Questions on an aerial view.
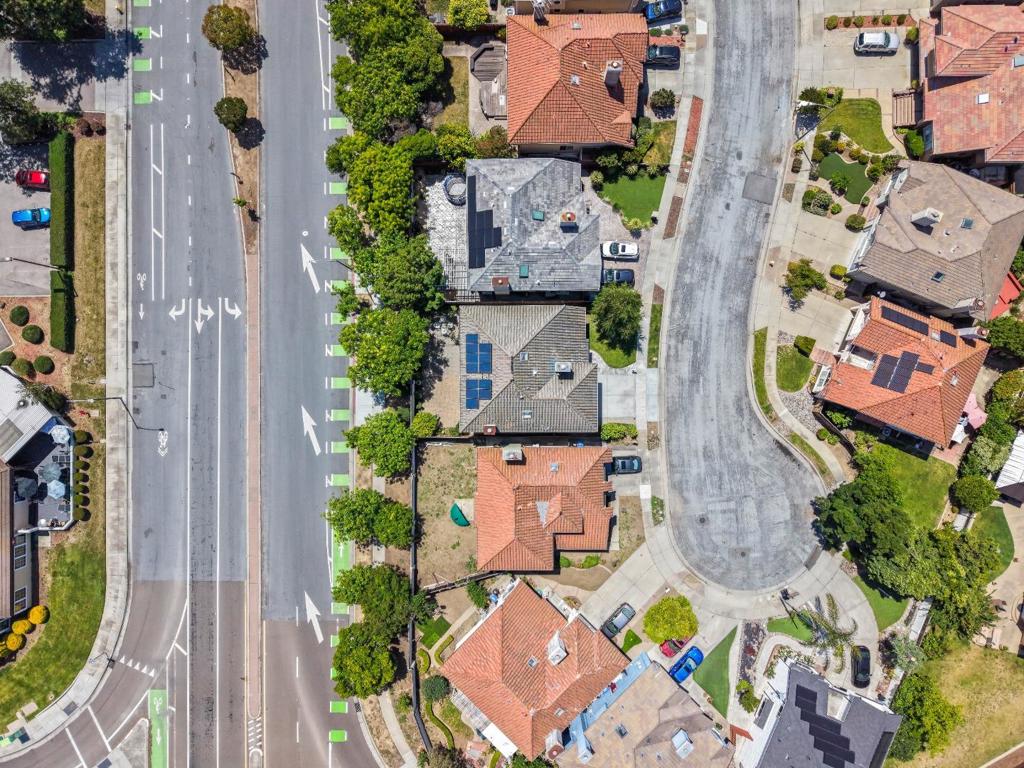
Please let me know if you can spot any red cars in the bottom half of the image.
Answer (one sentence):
Yes, I can see a red car in the bottom half of the image.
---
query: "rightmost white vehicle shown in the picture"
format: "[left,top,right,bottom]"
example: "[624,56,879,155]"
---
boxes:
[855,30,899,53]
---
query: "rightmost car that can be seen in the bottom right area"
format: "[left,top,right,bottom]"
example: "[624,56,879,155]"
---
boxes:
[850,645,873,687]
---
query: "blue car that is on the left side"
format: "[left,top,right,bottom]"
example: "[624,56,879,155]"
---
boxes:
[8,208,53,229]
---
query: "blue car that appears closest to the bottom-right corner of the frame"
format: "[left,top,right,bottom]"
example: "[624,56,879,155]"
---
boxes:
[669,645,707,681]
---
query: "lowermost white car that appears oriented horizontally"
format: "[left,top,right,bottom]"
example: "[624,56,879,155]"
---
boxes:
[601,240,640,259]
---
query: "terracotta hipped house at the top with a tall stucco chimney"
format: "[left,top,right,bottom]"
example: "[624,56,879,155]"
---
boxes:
[505,0,648,153]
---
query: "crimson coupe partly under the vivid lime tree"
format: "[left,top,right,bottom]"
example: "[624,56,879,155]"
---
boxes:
[658,633,694,661]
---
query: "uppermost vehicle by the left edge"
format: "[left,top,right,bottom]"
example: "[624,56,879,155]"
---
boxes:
[14,170,53,189]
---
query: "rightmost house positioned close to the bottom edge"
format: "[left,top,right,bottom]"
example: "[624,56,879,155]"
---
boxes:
[737,649,905,768]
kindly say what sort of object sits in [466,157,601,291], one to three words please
house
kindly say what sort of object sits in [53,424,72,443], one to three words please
umbrella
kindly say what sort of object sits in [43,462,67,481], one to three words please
umbrella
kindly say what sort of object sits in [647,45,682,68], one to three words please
car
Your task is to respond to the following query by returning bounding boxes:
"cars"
[600,602,637,640]
[601,240,640,259]
[647,45,682,68]
[8,208,53,229]
[669,645,707,681]
[14,170,53,189]
[850,645,873,687]
[658,633,694,661]
[855,30,899,53]
[601,268,636,286]
[644,0,686,23]
[612,456,643,474]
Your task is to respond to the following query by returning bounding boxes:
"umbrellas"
[53,424,72,443]
[963,394,978,408]
[43,462,67,481]
[960,406,985,430]
[19,476,43,497]
[49,480,70,498]
[950,424,963,440]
